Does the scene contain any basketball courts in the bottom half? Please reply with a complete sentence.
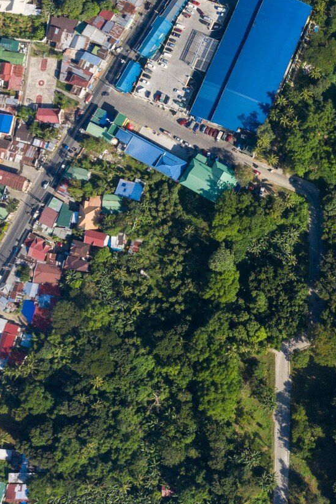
No, no basketball court appears in the bottom half.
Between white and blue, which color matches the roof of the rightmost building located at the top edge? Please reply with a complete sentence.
The color of the roof of the rightmost building located at the top edge is blue.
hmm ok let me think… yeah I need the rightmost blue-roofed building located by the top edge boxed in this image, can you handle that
[191,0,314,131]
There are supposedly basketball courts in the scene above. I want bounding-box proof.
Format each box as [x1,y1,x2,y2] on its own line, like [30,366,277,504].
[21,58,57,104]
